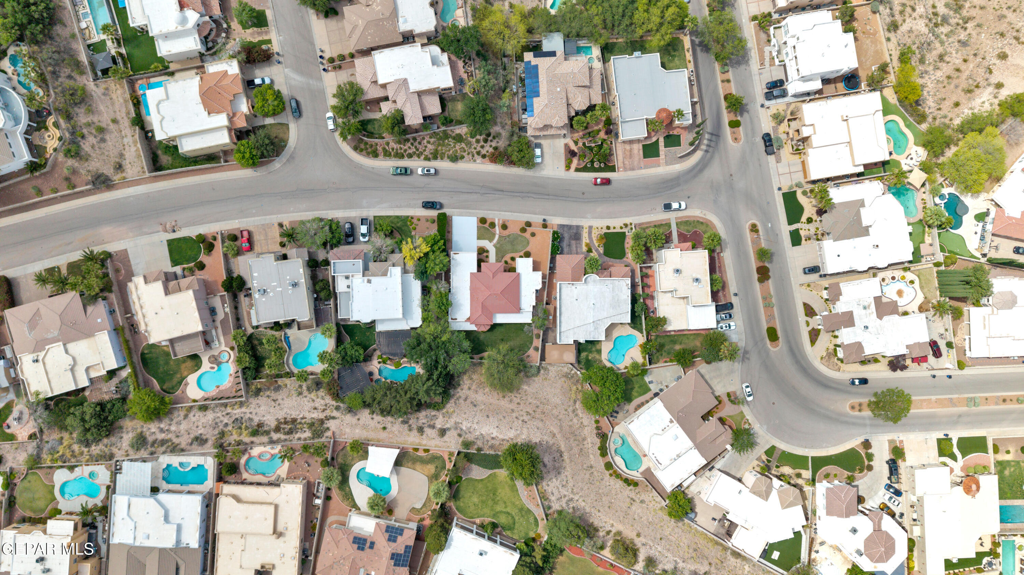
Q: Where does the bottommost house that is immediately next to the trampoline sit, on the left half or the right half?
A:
right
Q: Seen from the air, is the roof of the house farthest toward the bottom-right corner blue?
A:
No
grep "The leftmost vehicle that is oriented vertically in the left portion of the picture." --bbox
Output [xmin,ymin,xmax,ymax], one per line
[239,229,251,252]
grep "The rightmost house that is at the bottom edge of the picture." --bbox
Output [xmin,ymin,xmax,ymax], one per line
[900,460,1000,575]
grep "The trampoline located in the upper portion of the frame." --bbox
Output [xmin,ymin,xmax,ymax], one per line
[843,73,860,90]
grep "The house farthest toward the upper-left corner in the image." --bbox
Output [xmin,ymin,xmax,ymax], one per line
[0,84,43,174]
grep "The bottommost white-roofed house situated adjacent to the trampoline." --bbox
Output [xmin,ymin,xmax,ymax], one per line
[795,91,890,183]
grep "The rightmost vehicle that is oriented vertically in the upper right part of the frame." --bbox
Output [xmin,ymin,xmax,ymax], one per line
[763,134,775,157]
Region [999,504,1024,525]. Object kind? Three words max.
swimming pool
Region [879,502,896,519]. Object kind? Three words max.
car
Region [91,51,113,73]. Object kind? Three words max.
gazebo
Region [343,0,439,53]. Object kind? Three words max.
house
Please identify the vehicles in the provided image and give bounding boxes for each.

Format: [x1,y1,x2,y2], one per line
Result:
[888,460,899,483]
[763,134,775,157]
[929,338,945,361]
[1010,246,1024,255]
[592,178,610,185]
[423,201,441,209]
[884,483,903,498]
[883,493,901,508]
[326,112,337,131]
[849,378,868,386]
[662,202,685,210]
[239,229,251,252]
[534,141,543,164]
[418,167,436,175]
[716,312,734,321]
[879,502,896,519]
[742,383,753,401]
[290,98,301,118]
[392,167,410,175]
[764,88,784,100]
[360,219,369,241]
[717,322,736,330]
[802,265,817,274]
[247,77,270,87]
[765,79,781,89]
[715,302,735,313]
[857,496,867,505]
